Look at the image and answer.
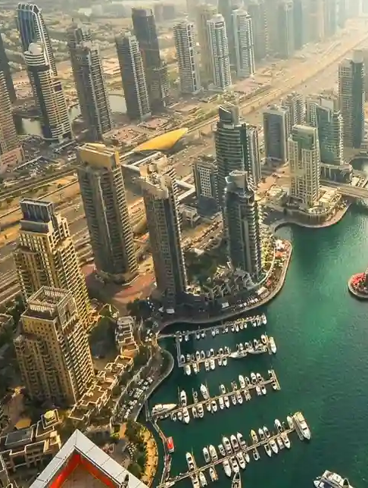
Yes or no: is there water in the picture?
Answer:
Yes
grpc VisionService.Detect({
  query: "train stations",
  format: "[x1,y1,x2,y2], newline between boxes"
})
[131,127,193,153]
